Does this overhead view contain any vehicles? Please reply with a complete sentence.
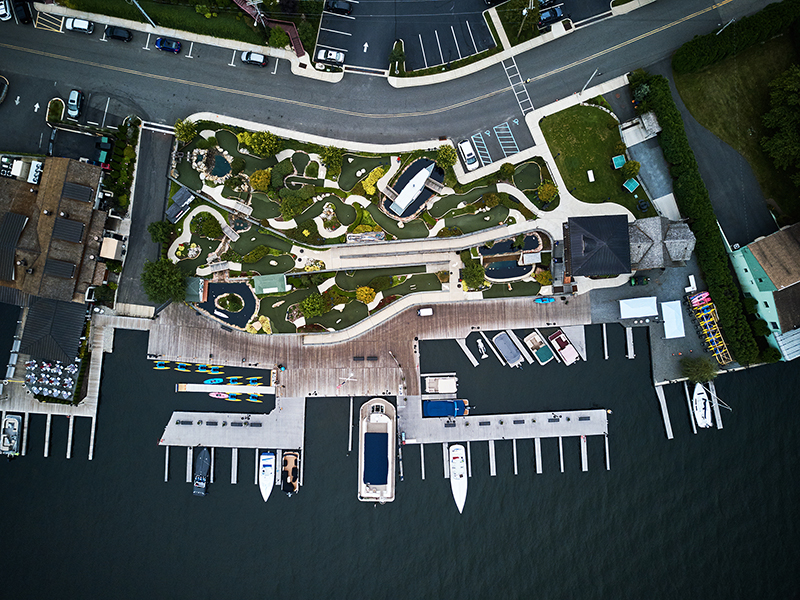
Yes, the photo shows a vehicle.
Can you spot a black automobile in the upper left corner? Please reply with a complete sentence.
Yes, a black automobile can be seen in the upper left corner.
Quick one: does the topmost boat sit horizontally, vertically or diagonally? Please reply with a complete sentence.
In this picture, the topmost boat is oriented diagonally.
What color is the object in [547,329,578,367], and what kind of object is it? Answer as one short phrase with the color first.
white boat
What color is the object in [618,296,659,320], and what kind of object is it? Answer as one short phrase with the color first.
white tent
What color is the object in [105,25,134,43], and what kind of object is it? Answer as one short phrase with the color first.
black car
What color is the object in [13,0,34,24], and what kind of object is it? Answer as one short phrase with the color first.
black car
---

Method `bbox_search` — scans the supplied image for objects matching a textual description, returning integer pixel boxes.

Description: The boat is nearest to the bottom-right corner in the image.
[691,381,734,433]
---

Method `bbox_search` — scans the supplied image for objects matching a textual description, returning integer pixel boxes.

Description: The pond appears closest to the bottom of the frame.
[194,280,258,330]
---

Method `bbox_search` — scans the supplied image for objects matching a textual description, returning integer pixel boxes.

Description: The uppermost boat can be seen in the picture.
[388,163,435,219]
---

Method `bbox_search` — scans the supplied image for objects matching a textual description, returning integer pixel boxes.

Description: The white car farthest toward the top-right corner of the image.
[457,138,478,172]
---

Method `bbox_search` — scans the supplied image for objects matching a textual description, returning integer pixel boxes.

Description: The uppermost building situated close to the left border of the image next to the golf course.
[0,157,109,309]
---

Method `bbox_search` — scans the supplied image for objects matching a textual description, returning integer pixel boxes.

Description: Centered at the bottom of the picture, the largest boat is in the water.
[359,398,396,508]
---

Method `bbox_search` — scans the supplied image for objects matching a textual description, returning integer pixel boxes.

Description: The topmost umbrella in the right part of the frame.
[612,154,627,169]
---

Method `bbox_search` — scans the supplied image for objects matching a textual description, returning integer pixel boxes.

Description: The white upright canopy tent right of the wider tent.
[659,300,686,339]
